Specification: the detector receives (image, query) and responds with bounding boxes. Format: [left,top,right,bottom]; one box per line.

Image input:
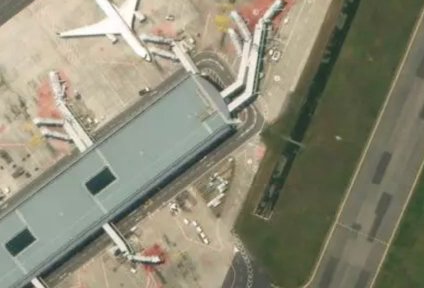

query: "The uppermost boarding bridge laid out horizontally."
[140,35,178,47]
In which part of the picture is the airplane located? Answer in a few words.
top left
